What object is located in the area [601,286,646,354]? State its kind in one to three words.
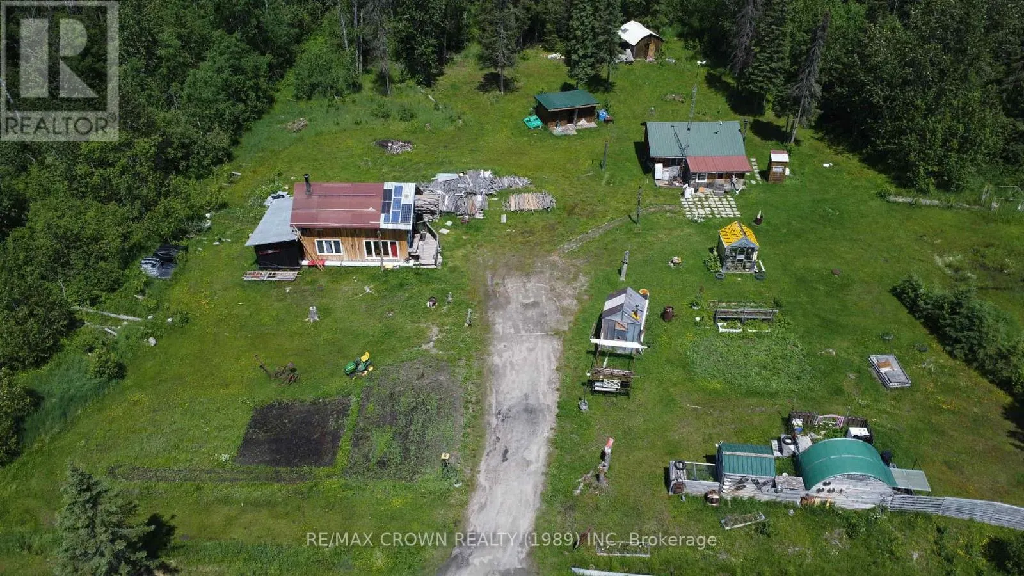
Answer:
shed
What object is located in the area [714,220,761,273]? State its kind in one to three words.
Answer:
greenhouse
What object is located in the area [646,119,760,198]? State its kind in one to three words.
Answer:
house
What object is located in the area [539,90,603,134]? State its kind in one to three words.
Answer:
shed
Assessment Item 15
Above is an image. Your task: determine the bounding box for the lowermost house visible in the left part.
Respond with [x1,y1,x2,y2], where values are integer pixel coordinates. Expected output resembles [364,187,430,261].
[246,173,417,268]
